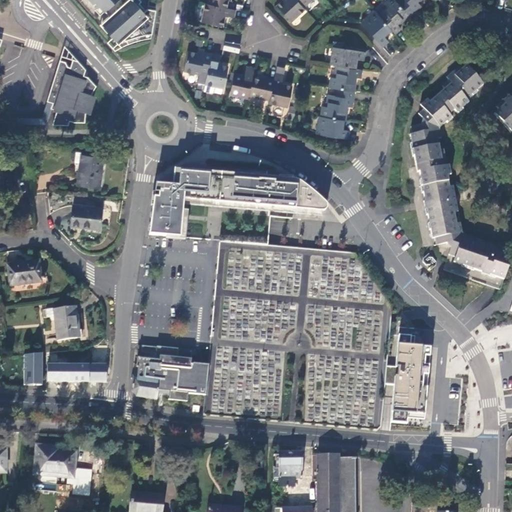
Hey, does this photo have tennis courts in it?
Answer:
No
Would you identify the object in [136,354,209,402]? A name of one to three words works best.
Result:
building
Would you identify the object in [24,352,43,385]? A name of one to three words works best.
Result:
barn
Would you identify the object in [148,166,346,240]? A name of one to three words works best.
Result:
building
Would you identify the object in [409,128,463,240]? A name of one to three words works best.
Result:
house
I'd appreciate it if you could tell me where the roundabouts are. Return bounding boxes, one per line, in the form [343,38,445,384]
[146,110,180,144]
